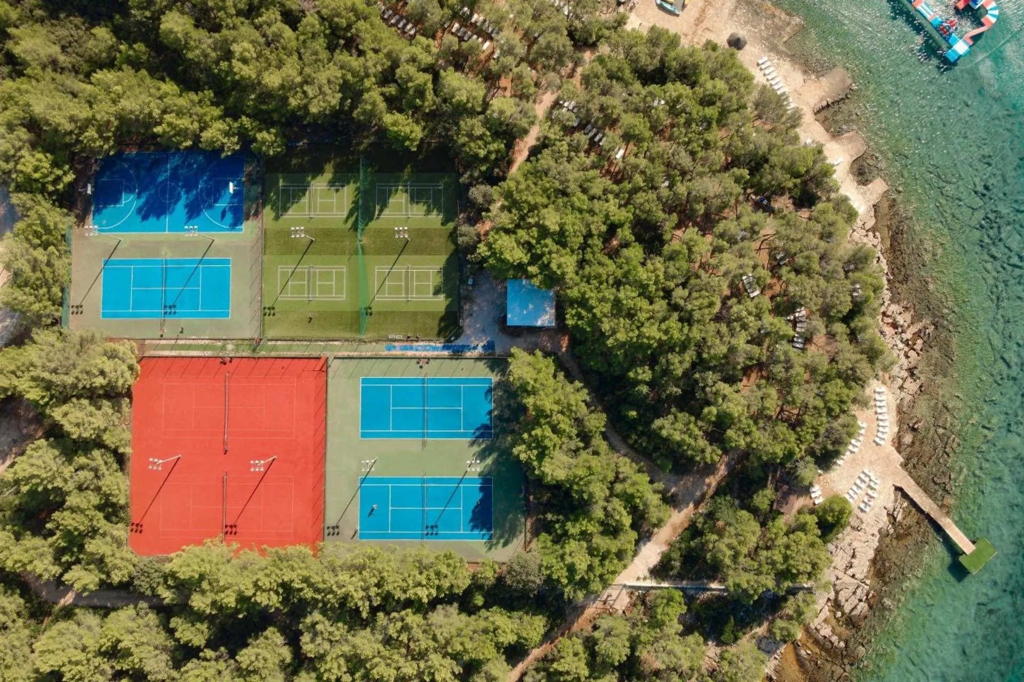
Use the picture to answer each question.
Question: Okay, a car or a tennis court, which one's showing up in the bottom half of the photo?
tennis court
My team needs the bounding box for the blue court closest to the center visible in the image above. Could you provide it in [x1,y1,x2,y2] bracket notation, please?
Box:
[360,378,493,439]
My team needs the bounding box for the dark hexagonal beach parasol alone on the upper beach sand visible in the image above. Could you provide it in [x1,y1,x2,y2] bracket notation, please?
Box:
[726,32,746,52]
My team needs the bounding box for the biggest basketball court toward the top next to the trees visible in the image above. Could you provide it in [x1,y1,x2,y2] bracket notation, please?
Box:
[92,151,245,233]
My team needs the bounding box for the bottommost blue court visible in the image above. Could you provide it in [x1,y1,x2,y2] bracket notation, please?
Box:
[359,477,493,540]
